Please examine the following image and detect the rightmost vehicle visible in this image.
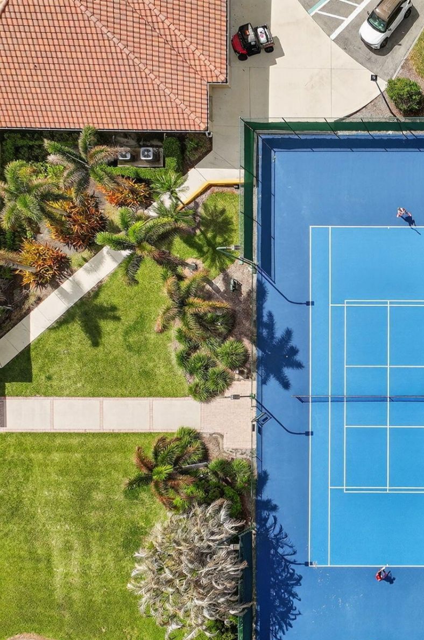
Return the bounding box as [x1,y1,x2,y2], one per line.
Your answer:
[361,0,417,47]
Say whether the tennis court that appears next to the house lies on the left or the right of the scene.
right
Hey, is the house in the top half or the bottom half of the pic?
top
